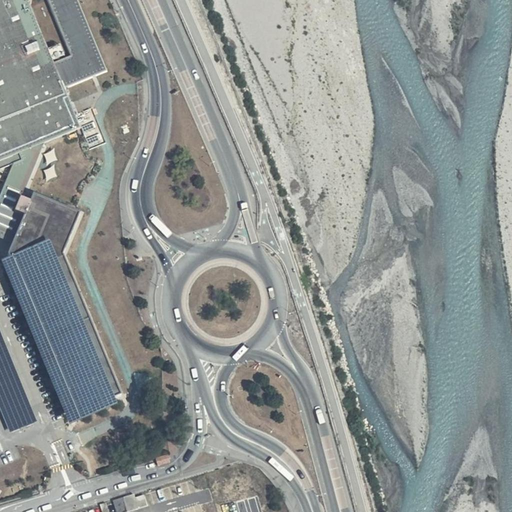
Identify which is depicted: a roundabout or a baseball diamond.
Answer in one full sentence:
The image shows a roundabout.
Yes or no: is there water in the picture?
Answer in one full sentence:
Yes, there is water in the image.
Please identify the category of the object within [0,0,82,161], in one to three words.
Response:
building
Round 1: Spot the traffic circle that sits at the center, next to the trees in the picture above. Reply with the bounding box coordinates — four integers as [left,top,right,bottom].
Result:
[163,240,286,364]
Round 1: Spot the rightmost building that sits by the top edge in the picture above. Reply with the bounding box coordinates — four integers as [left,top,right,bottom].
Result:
[47,0,108,88]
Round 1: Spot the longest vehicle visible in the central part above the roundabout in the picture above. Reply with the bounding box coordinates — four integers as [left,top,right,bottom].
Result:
[241,202,260,244]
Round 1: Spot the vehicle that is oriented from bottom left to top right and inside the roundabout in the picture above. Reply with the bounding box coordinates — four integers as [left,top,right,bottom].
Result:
[232,344,248,360]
